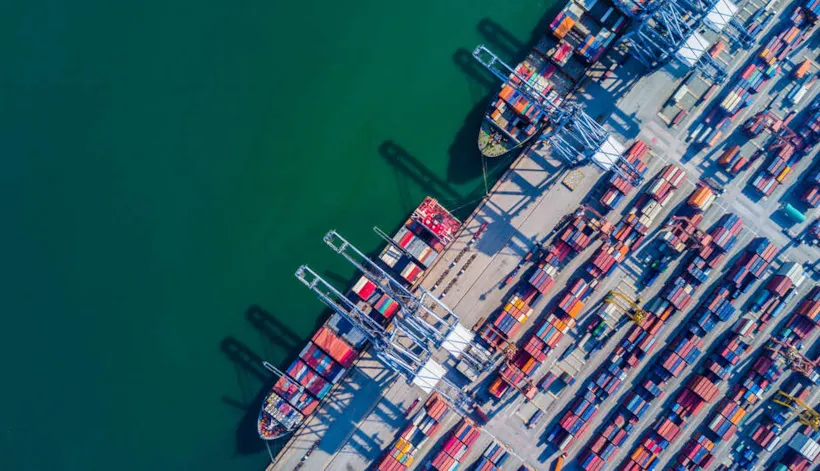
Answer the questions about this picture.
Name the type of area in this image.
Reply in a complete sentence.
The picture captures a port.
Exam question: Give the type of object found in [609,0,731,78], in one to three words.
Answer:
container crane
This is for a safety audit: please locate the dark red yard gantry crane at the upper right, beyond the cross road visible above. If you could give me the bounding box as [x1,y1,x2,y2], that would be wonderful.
[740,107,796,147]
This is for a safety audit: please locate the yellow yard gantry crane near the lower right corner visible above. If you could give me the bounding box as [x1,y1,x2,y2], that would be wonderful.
[757,383,820,431]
